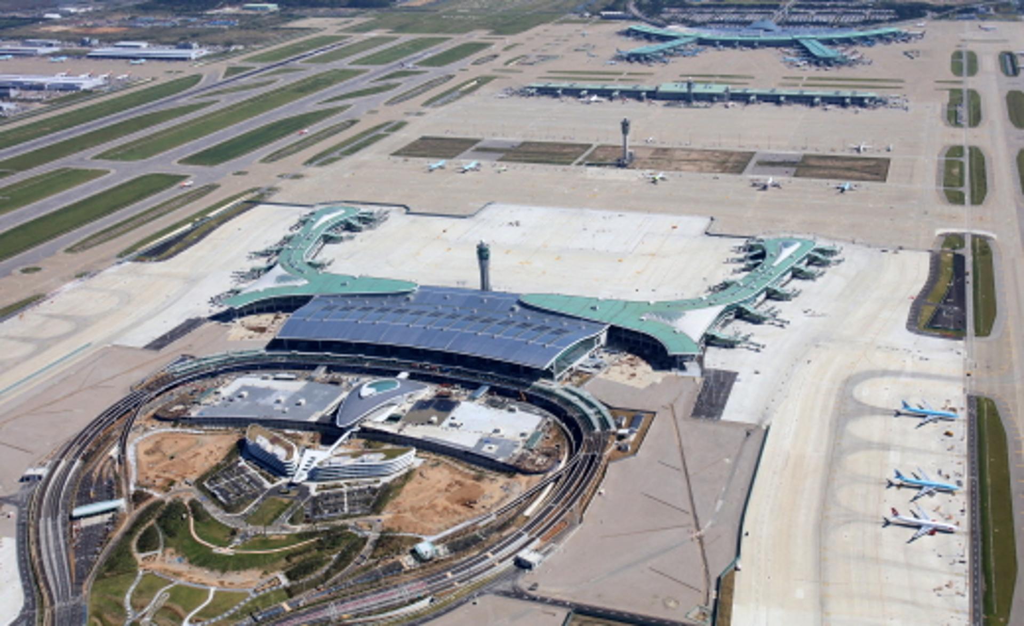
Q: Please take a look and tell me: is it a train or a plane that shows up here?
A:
plane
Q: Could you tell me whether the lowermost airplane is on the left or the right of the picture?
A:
right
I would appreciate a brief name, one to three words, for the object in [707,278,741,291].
jet bridge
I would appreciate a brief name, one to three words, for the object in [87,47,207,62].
building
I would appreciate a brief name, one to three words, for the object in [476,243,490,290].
building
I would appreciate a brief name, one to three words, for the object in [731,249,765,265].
jet bridge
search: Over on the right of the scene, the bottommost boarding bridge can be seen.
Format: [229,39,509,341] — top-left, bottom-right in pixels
[707,330,758,351]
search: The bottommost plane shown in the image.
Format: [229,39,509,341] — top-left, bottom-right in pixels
[885,500,961,539]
